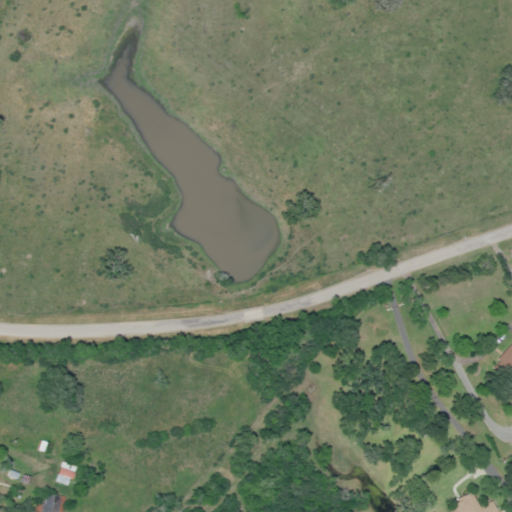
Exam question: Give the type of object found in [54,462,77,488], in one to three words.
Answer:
barn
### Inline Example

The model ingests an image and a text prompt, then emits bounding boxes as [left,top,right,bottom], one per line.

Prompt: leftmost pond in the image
[101,20,278,281]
